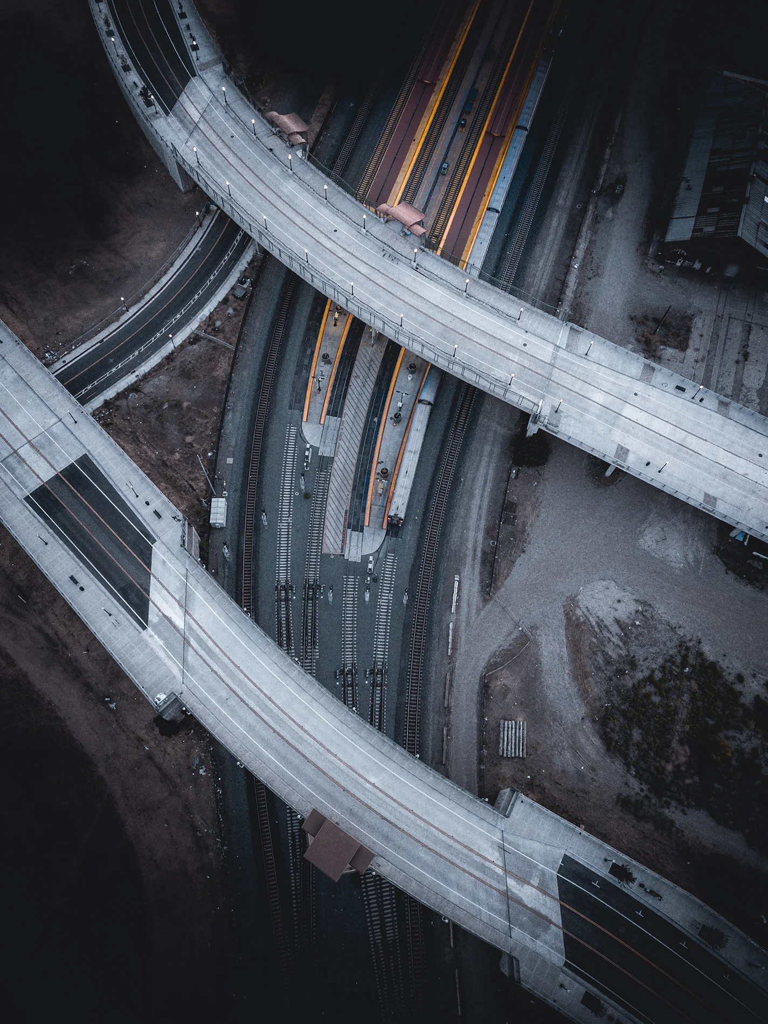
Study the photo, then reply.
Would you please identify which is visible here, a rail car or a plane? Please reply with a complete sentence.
The one in the frame is a rail car.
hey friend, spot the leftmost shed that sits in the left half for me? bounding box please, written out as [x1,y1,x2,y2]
[208,498,230,530]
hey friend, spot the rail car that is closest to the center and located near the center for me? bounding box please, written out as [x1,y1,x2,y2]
[387,400,432,532]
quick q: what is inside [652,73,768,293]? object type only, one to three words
shed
